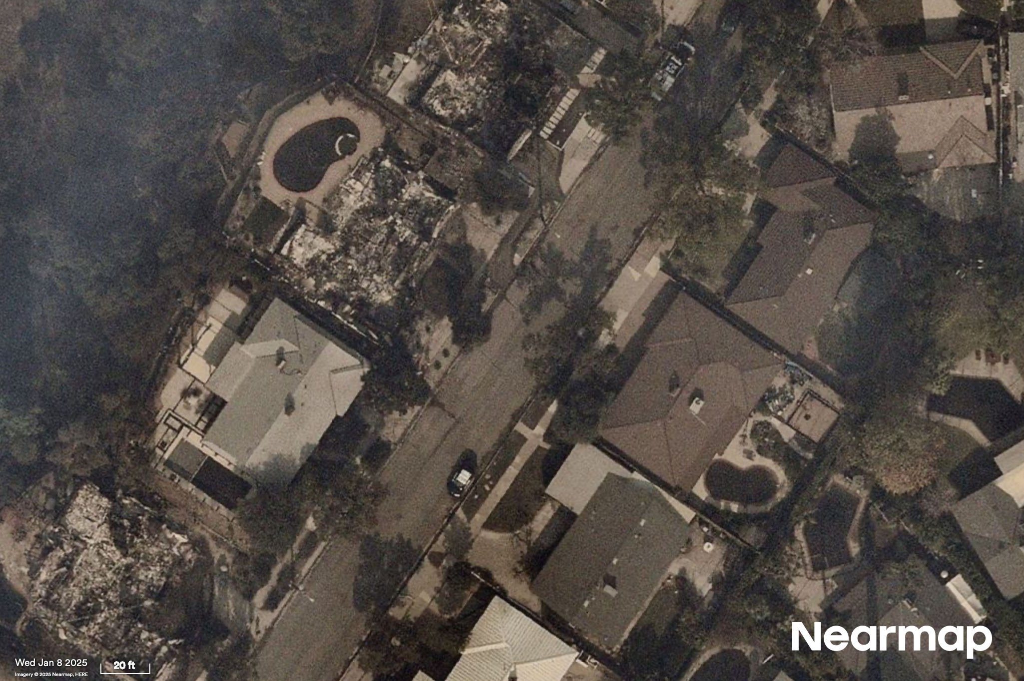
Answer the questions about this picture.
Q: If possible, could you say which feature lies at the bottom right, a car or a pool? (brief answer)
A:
pool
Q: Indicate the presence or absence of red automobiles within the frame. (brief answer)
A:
No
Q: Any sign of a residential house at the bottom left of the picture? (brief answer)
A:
Yes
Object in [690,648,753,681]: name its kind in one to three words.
swimming pool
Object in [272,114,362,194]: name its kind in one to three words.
swimming pool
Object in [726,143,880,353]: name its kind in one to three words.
house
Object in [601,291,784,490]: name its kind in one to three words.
house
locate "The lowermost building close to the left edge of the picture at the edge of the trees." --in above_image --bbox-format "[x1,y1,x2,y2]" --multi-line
[28,475,196,675]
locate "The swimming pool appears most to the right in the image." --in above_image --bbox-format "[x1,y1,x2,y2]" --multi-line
[926,375,1024,447]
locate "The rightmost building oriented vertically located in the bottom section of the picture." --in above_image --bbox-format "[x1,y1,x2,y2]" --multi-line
[951,441,1024,600]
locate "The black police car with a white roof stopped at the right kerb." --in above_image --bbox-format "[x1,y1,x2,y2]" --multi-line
[446,460,478,501]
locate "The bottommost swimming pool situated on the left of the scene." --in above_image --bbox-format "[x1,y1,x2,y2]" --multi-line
[162,438,253,510]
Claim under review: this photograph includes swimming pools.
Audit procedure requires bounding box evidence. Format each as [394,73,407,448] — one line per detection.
[162,438,253,510]
[703,457,780,508]
[802,483,860,574]
[272,114,362,194]
[926,375,1024,447]
[690,648,753,681]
